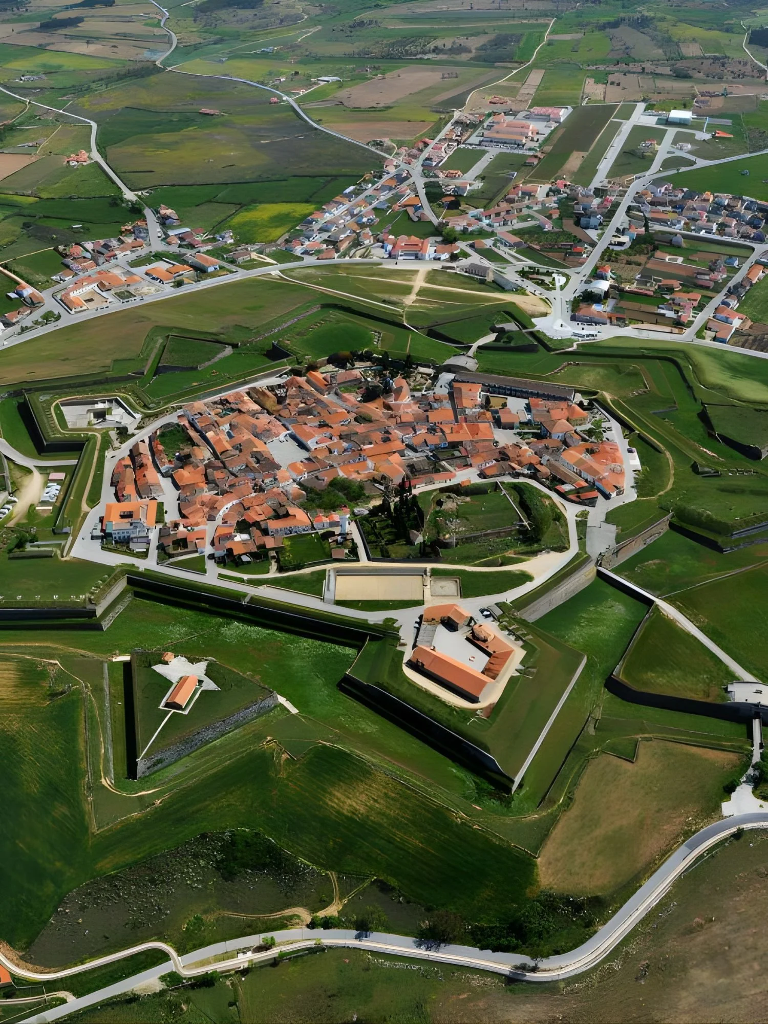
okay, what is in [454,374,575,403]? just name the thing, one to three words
shed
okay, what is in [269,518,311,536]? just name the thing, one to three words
house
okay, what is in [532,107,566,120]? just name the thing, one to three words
building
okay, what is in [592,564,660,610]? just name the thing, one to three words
bridge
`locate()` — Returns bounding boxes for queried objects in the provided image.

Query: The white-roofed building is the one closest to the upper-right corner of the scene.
[667,108,691,125]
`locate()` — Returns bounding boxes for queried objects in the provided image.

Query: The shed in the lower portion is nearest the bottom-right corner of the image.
[415,623,437,649]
